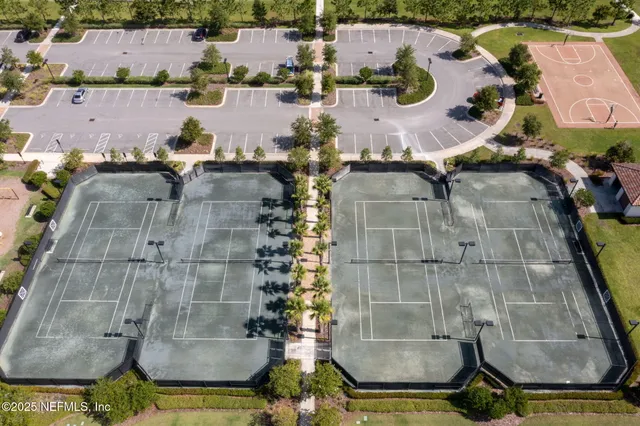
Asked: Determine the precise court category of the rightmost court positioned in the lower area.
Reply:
tennis court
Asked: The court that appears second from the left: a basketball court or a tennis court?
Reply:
tennis court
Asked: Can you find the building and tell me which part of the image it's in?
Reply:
right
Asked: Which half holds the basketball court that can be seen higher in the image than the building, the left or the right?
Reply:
right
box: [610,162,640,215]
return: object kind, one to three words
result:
building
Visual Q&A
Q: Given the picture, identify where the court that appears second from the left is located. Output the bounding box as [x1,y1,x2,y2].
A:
[138,172,294,387]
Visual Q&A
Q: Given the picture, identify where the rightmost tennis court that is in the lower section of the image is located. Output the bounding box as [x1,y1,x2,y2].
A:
[448,171,629,389]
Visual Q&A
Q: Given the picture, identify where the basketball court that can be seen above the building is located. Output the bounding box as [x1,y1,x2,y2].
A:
[528,42,640,127]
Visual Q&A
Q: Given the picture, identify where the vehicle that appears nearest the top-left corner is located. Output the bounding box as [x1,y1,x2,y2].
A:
[13,29,29,42]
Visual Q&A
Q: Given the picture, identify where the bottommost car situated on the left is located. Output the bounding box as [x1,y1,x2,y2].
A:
[70,86,86,103]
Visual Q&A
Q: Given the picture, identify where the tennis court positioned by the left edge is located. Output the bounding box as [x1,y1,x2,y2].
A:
[0,172,179,386]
